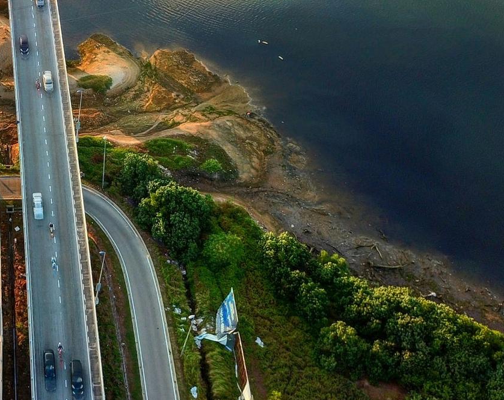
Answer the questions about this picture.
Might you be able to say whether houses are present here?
No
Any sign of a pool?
No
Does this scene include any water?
Yes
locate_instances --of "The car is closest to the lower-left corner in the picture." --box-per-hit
[42,352,59,384]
